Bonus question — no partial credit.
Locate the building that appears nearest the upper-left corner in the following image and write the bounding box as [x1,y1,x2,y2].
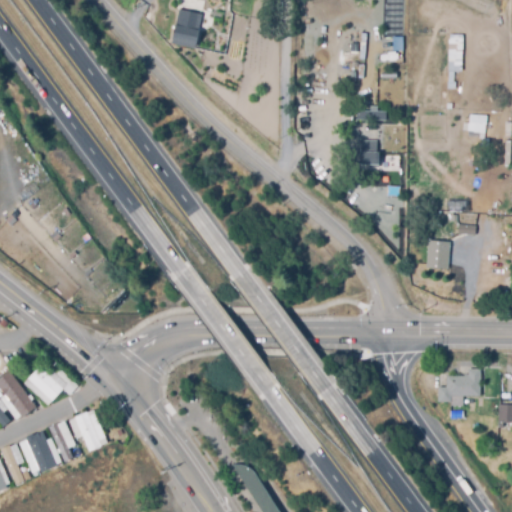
[173,8,204,48]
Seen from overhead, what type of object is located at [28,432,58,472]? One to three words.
house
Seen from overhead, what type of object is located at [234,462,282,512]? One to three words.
building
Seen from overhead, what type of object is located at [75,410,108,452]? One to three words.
house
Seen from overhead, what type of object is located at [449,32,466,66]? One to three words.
barn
